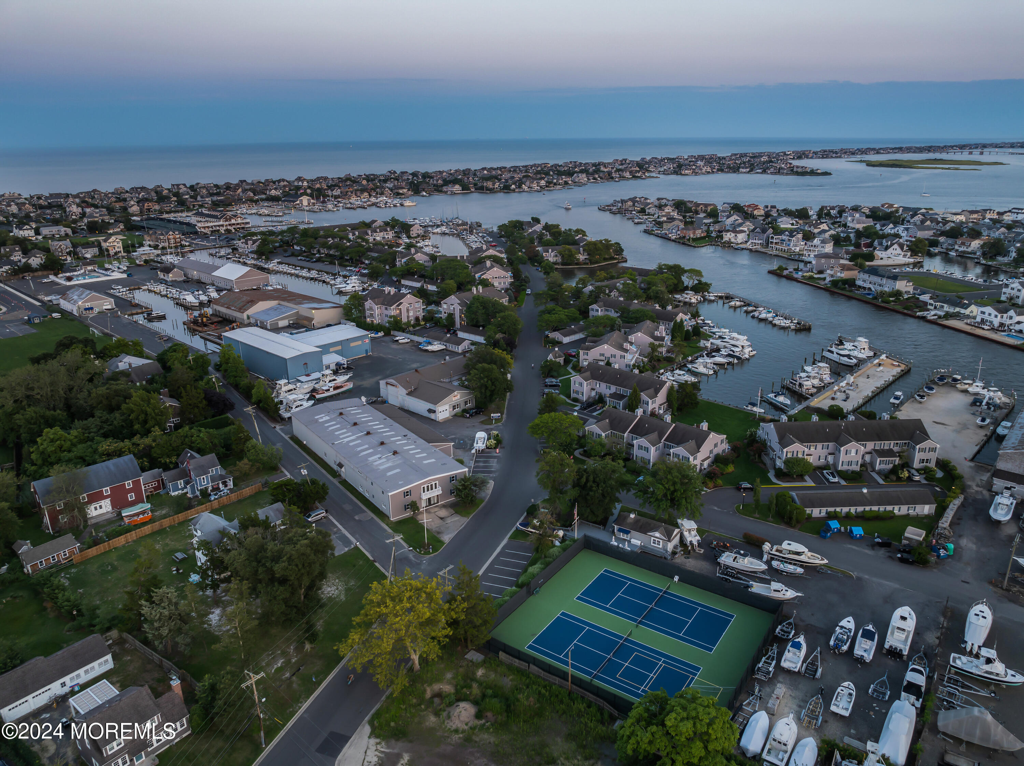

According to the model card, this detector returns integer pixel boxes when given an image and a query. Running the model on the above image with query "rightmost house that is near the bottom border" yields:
[76,670,195,766]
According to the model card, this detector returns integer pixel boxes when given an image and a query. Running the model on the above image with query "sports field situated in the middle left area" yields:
[0,314,102,370]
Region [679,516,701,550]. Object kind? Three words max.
boat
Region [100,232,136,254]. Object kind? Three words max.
house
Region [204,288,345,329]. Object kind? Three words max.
building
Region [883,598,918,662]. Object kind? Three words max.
boat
